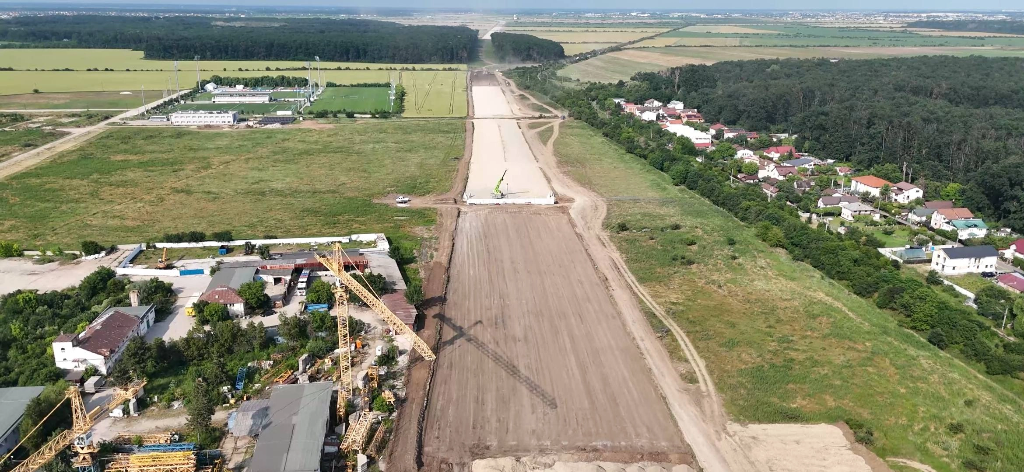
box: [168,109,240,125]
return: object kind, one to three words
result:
building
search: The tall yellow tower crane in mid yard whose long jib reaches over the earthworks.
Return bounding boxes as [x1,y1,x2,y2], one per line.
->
[317,244,438,407]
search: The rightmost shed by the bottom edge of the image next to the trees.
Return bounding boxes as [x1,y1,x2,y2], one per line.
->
[252,380,334,472]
